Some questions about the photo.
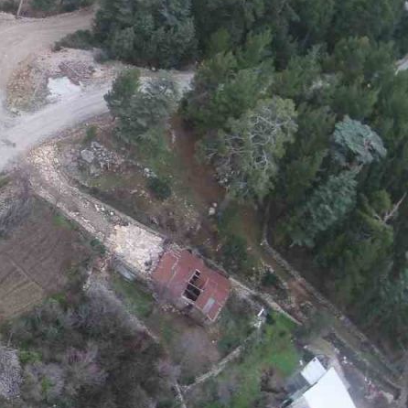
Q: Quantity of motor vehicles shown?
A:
0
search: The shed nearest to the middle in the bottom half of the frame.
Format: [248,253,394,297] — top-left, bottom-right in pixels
[145,246,231,334]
